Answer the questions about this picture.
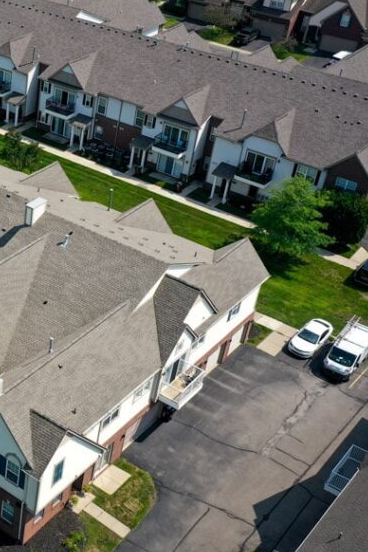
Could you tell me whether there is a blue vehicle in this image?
No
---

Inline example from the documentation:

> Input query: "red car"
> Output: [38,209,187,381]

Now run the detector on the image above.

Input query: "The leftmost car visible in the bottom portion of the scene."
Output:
[290,316,331,352]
